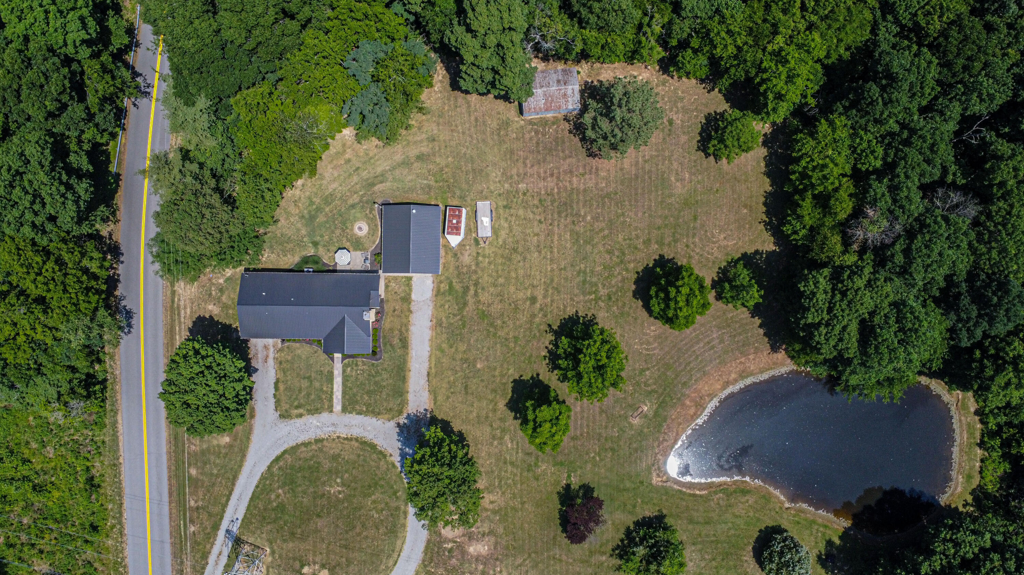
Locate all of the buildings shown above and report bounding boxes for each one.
[521,67,580,116]
[236,272,381,355]
[381,204,442,275]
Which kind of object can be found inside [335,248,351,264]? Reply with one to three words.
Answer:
umbrella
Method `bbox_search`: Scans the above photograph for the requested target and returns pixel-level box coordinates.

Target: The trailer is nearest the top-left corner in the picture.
[445,205,465,252]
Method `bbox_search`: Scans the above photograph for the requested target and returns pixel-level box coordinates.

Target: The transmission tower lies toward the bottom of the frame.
[219,547,267,575]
